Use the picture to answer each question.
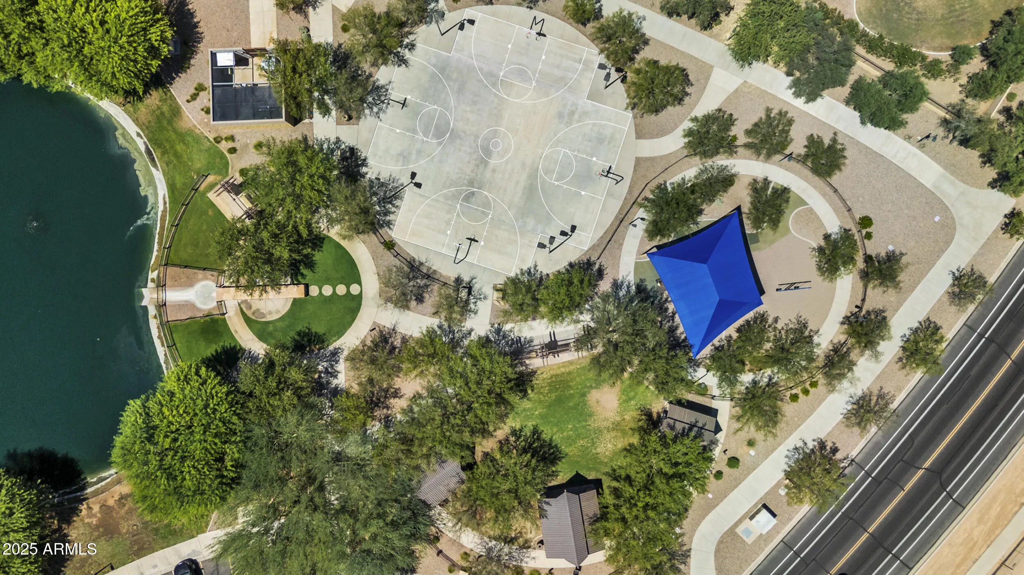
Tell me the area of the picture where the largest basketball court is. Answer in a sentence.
The largest basketball court is located in the top region of the scene.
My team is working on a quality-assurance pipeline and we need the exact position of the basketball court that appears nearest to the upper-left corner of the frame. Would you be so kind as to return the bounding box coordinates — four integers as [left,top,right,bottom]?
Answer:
[357,4,635,282]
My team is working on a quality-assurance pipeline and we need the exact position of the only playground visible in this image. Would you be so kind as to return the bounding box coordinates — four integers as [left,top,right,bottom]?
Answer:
[634,175,837,377]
